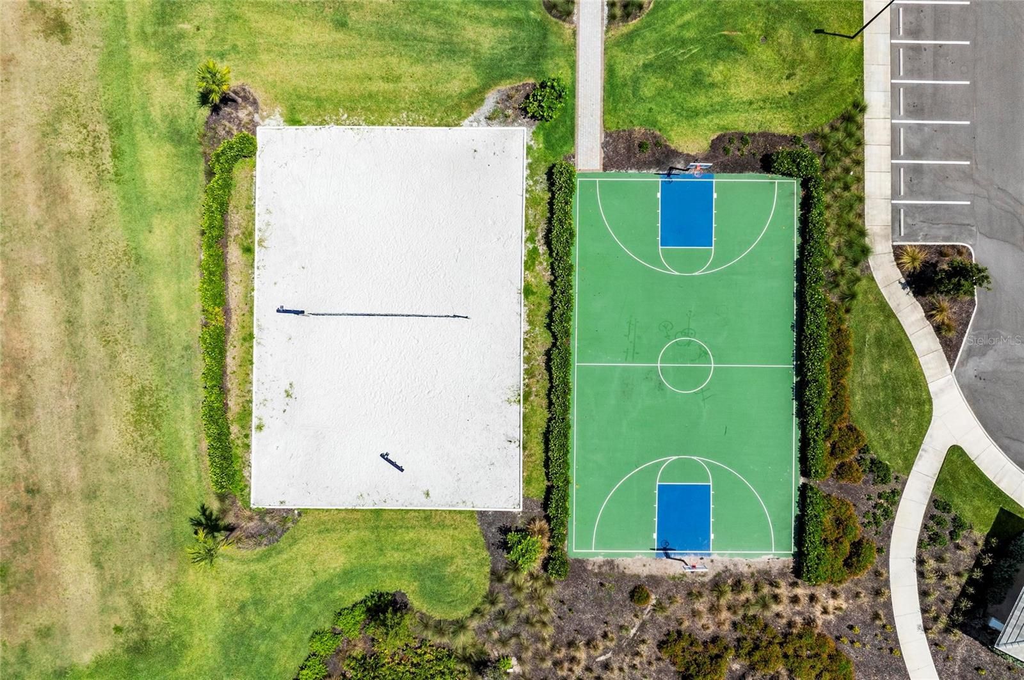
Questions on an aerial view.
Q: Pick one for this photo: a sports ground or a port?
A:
sports ground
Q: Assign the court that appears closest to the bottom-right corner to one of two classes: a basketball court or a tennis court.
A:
basketball court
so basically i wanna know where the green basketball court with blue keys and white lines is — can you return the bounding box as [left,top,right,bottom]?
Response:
[568,173,800,558]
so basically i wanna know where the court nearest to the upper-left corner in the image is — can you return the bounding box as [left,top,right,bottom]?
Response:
[250,126,526,511]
